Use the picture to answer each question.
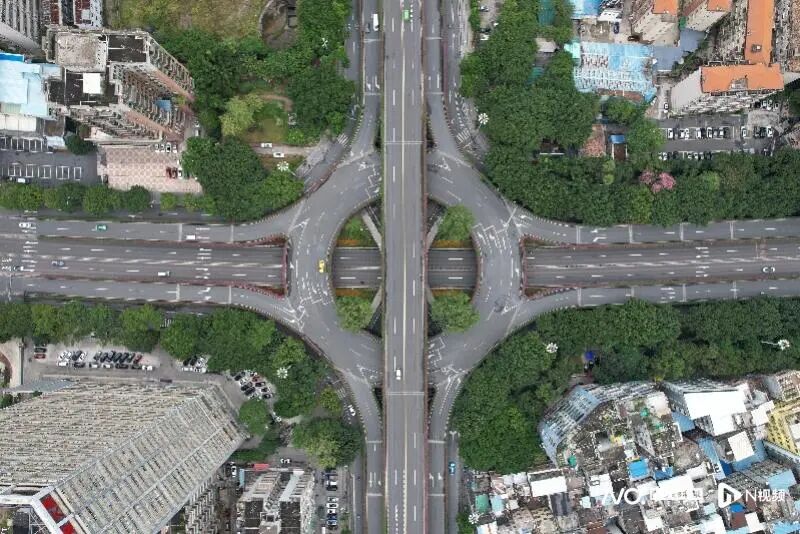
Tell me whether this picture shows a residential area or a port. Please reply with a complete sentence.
What you see here is a residential area.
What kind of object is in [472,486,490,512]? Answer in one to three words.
house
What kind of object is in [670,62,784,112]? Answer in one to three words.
building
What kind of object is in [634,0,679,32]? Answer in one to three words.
building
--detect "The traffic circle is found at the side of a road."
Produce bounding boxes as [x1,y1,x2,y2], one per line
[281,148,529,391]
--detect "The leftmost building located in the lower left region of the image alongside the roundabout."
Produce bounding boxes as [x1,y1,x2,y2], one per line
[0,383,245,534]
